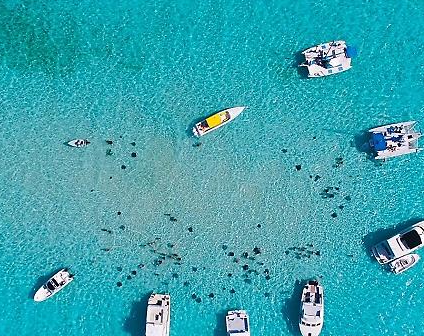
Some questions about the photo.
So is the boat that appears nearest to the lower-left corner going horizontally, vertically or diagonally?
diagonally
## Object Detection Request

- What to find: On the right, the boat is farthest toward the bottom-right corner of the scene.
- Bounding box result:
[388,256,420,274]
